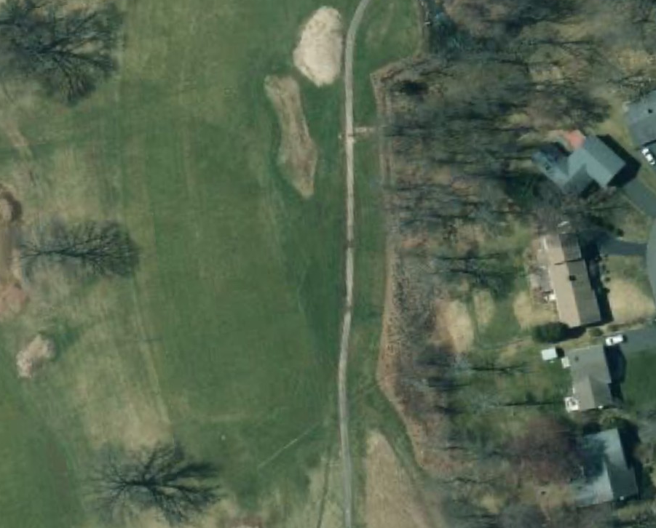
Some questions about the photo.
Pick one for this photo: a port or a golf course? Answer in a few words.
golf course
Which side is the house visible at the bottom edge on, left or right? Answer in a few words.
right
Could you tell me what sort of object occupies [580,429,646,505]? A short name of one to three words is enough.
house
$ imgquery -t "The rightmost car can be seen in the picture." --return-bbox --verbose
[641,148,656,165]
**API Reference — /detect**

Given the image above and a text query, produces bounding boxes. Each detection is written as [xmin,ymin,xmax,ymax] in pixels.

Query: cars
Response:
[606,335,624,344]
[641,148,656,165]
